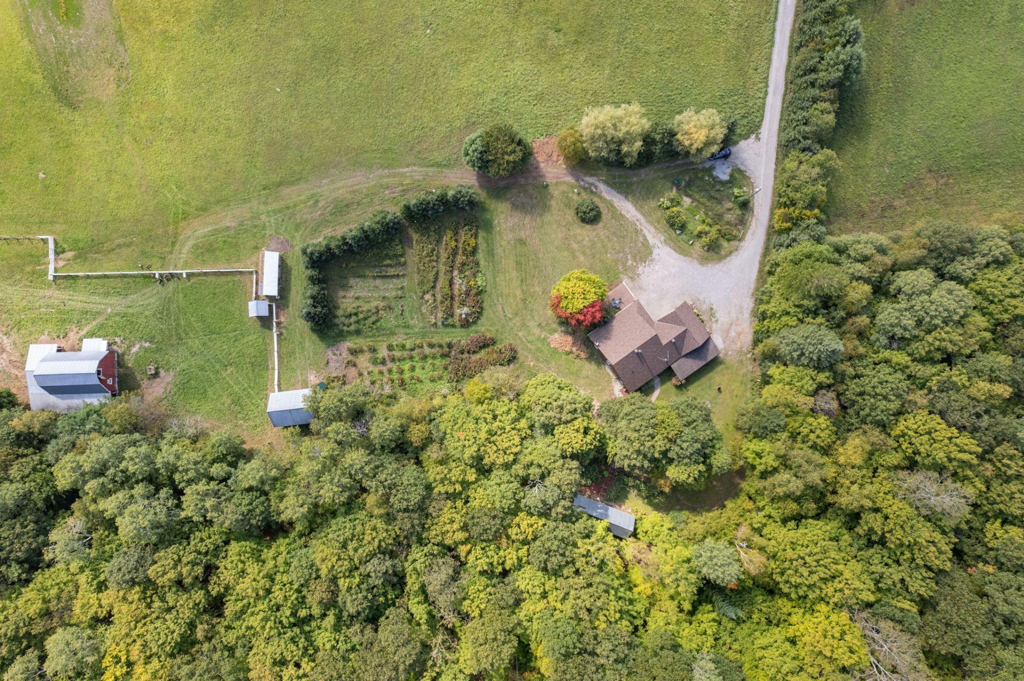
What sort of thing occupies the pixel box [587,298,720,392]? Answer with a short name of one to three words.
house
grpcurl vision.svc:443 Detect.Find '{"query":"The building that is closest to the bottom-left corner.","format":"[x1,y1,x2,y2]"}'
[27,338,118,415]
